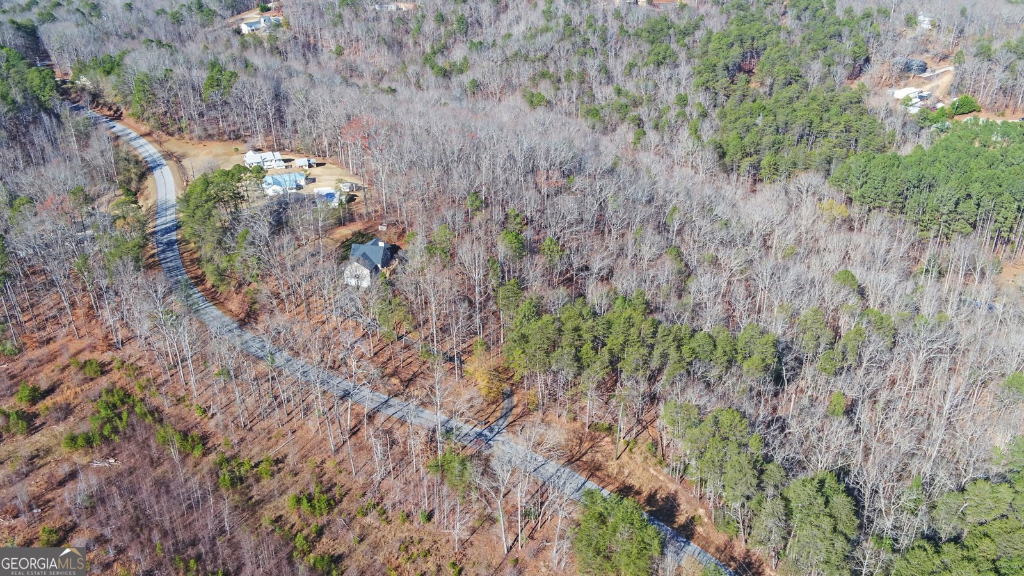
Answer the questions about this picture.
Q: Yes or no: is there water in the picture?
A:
No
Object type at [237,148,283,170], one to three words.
house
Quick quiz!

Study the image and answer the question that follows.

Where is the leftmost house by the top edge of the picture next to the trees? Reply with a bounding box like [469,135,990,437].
[237,17,273,33]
